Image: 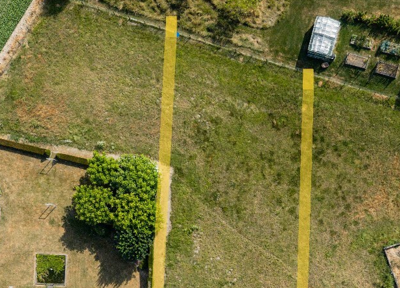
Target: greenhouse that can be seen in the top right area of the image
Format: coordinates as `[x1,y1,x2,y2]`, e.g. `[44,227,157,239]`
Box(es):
[308,15,341,61]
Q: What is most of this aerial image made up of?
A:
grass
